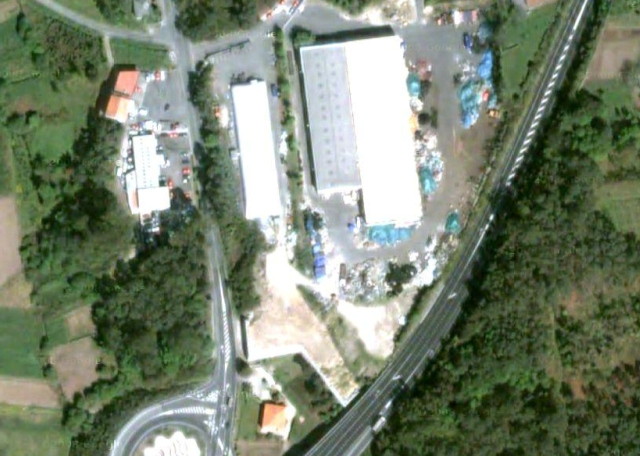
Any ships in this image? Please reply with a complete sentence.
No, I find no ship anywhere in the image.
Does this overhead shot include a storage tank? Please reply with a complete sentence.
No, I can see no storage tank in this picture.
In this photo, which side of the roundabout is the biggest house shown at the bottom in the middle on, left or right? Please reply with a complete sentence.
Looking at the photo, the biggest house shown at the bottom in the middle lies to the right of the roundabout.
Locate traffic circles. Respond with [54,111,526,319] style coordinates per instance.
[114,402,234,456]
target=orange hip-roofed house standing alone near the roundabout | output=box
[261,403,286,432]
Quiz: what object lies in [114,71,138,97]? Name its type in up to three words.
house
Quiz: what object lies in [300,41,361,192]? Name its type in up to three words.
building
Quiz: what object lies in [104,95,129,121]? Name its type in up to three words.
house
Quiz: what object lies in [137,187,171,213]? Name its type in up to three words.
building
